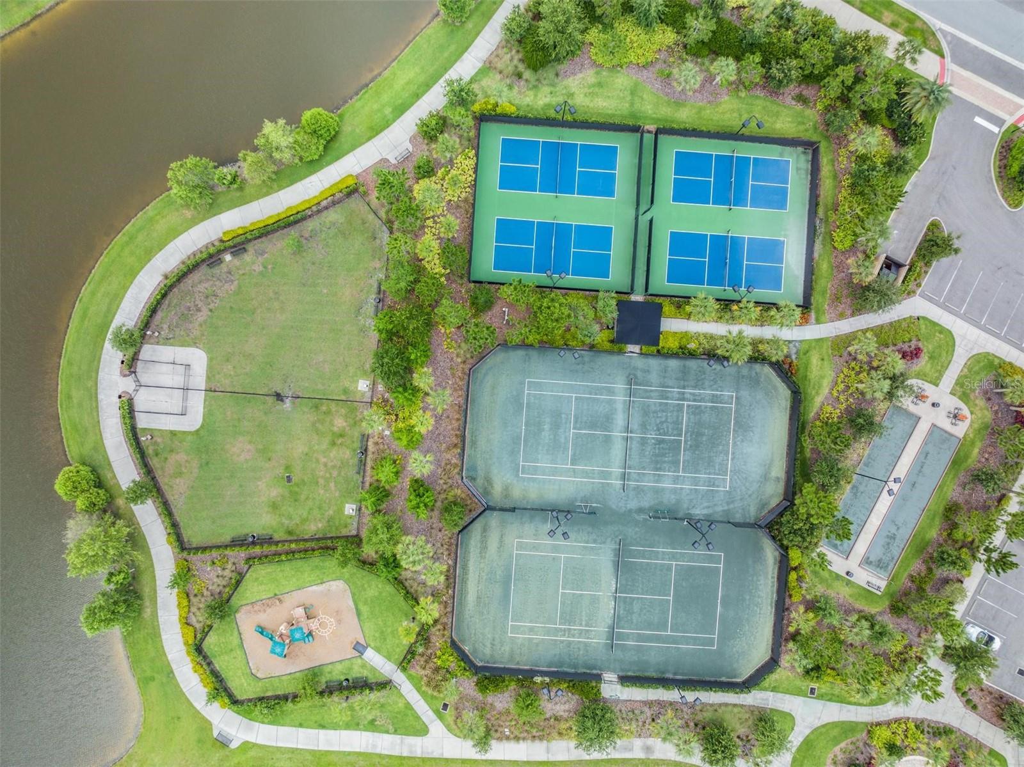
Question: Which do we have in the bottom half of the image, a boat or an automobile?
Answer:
automobile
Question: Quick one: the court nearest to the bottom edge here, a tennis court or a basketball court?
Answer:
tennis court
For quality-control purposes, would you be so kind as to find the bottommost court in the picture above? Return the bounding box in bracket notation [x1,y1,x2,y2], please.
[453,507,780,682]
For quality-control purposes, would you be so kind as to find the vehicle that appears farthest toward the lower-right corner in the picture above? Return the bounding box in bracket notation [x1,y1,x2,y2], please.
[962,622,1003,652]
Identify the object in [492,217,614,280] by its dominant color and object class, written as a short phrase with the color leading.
blue sports court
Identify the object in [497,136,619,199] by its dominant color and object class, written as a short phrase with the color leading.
blue sports court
